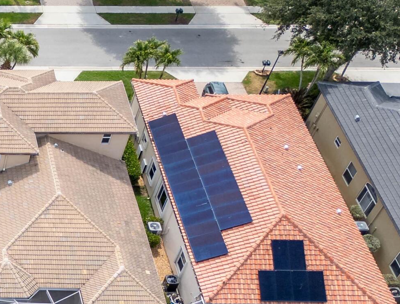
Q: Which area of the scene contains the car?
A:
top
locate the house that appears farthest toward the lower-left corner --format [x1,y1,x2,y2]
[0,67,167,304]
